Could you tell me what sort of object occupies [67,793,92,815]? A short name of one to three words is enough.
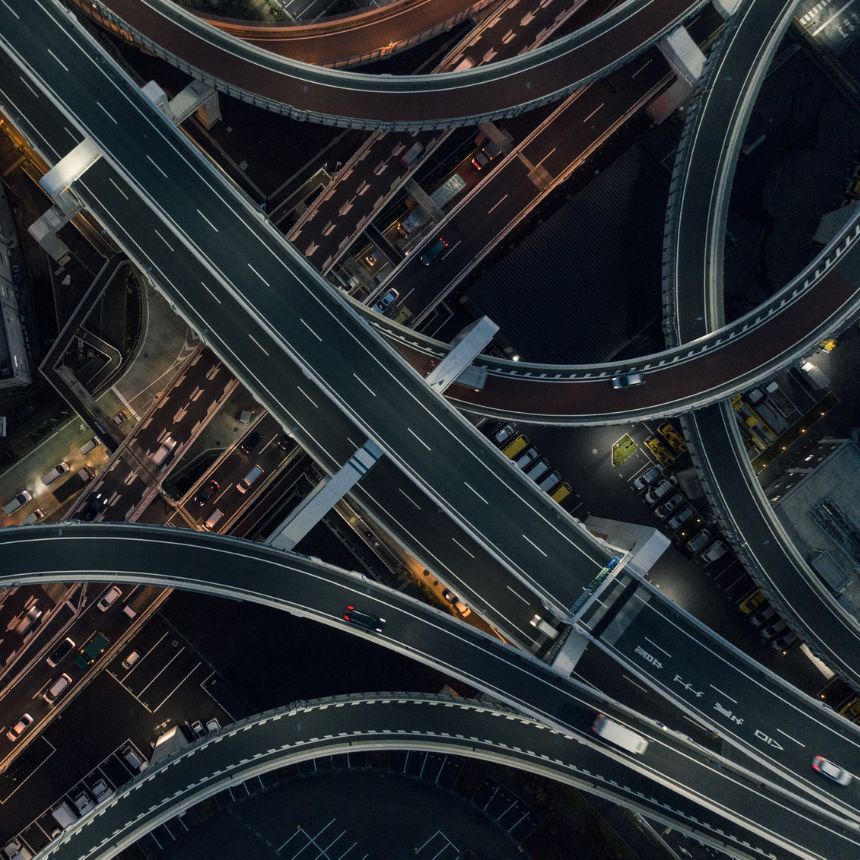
truck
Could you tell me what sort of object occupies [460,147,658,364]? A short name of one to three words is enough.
warehouse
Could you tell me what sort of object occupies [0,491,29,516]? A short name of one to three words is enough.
car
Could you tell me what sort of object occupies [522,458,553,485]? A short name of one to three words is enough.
vehicle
